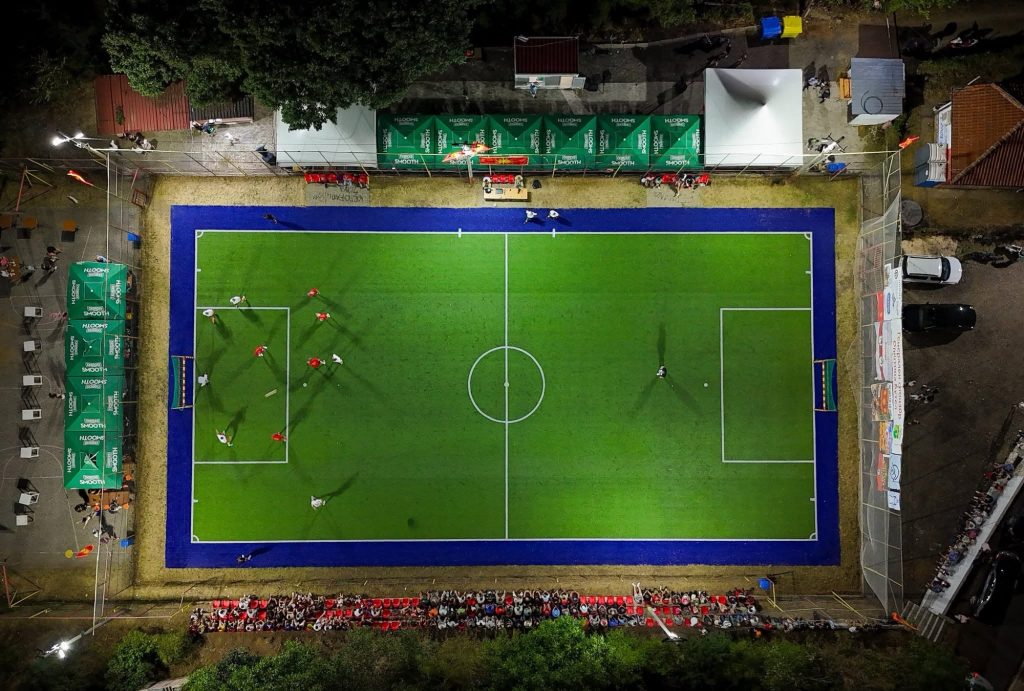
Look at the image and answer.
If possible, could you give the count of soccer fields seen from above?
1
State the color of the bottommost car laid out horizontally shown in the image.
black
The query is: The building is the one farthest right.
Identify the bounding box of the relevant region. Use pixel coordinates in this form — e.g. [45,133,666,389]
[931,75,1024,196]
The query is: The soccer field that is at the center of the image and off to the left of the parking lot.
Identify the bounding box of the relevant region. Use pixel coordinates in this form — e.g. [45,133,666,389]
[165,206,841,568]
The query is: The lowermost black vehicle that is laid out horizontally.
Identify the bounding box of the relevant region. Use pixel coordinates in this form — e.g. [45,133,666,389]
[898,300,974,334]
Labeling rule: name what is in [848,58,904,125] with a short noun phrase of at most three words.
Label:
shed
